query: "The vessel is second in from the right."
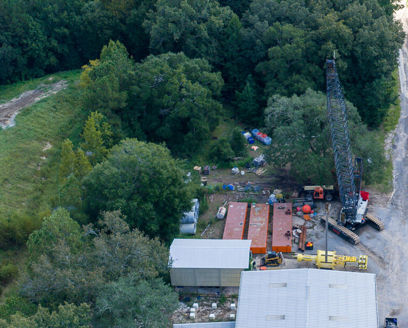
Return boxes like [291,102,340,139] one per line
[248,203,268,254]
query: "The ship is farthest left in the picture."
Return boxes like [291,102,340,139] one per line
[222,202,247,245]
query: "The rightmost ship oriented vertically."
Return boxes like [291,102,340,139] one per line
[273,203,292,253]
